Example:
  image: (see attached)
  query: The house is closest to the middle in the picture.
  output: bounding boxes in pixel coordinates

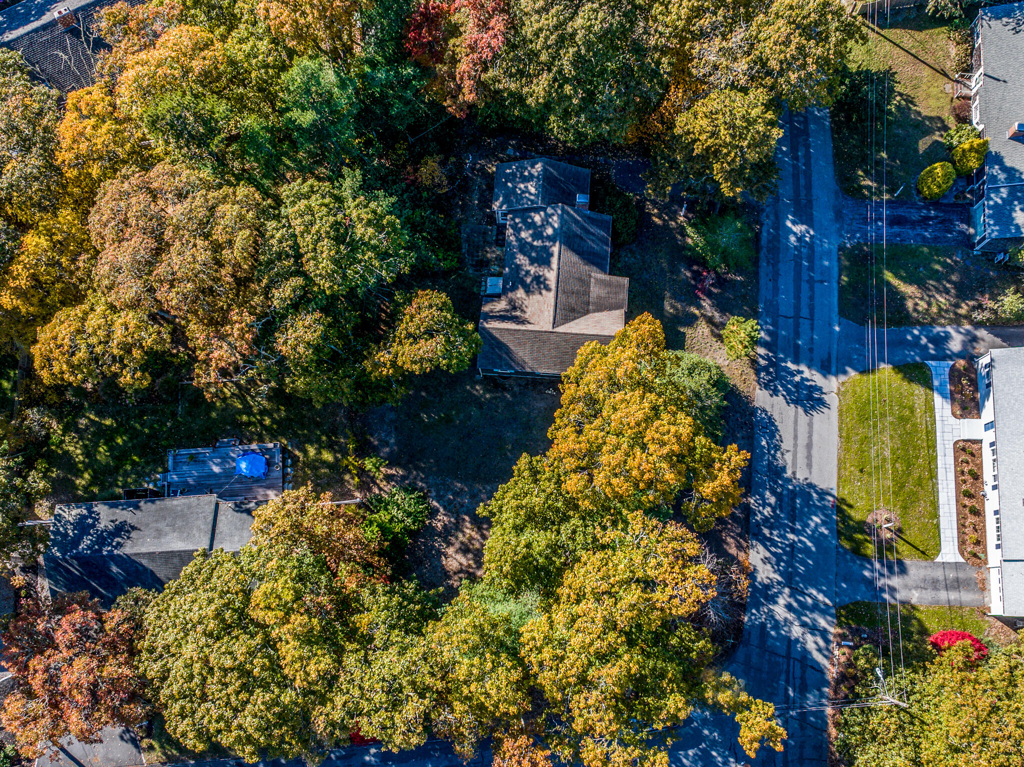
[475,153,630,385]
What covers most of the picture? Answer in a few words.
trees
